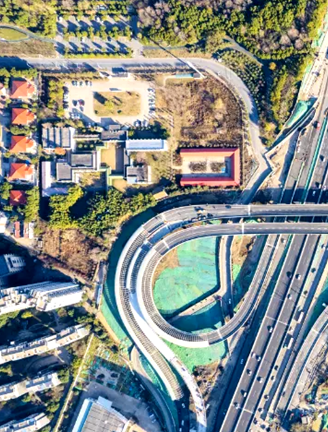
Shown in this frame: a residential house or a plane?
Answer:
residential house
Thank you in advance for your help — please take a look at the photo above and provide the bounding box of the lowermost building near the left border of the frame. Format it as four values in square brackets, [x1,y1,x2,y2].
[0,409,60,432]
